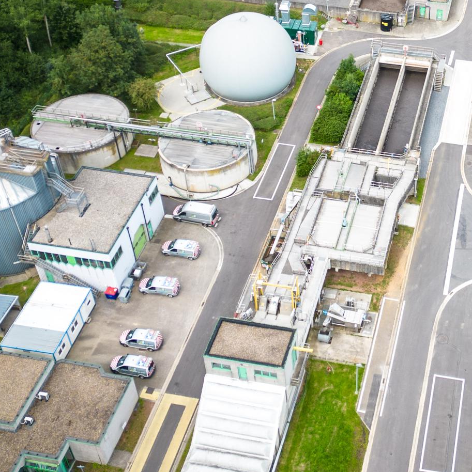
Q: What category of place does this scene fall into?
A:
industrial area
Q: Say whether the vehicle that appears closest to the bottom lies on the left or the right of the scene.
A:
left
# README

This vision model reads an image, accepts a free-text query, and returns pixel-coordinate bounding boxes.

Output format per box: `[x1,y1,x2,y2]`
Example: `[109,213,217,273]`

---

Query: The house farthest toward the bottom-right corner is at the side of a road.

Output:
[204,317,316,392]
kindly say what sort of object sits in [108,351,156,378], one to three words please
vehicle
